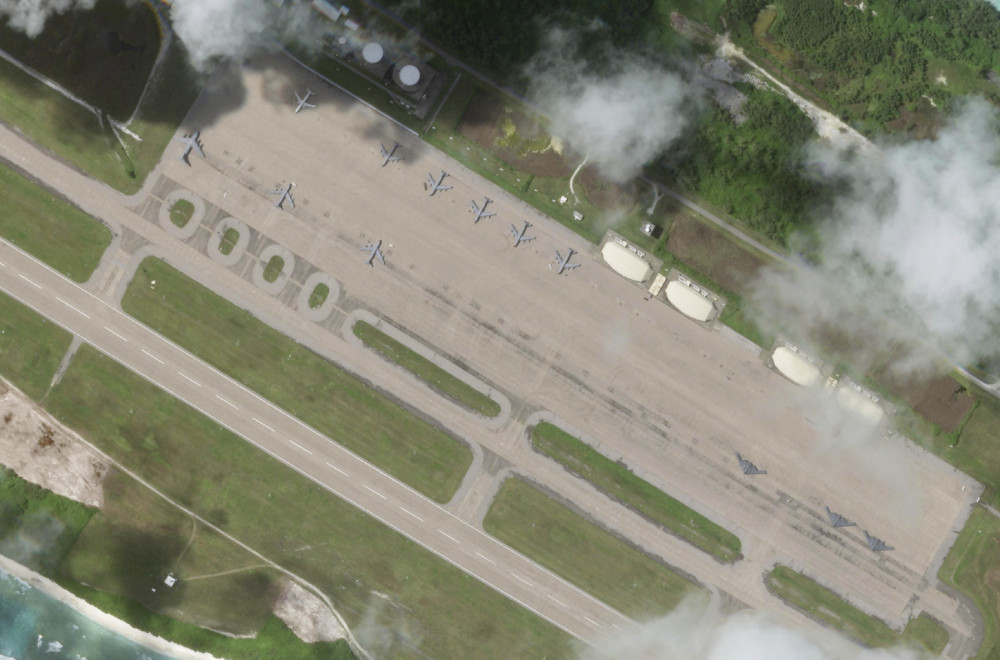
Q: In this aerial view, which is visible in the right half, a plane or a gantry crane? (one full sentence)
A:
There is a plane in the right half.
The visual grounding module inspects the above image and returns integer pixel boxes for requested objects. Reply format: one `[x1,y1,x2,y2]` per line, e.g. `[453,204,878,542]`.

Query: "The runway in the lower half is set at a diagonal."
[0,237,697,660]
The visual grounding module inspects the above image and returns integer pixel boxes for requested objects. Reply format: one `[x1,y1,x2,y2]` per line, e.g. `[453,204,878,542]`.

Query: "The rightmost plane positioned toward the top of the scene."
[557,249,580,273]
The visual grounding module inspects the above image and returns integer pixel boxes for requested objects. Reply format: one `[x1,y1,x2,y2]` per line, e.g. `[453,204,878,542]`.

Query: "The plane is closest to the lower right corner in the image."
[864,529,896,551]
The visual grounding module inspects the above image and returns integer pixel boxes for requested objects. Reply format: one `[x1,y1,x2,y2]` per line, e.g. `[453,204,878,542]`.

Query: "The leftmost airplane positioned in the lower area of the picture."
[737,452,767,474]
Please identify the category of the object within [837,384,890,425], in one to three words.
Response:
hangar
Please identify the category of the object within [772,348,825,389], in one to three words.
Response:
hangar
